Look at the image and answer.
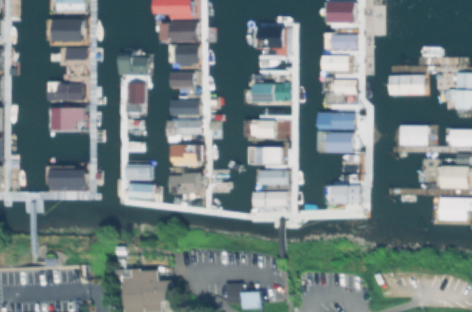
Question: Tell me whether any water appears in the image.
Yes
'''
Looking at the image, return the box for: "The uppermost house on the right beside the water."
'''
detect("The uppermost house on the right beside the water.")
[326,0,358,22]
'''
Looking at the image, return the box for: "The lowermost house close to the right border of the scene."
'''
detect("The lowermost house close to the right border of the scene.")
[434,196,472,224]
